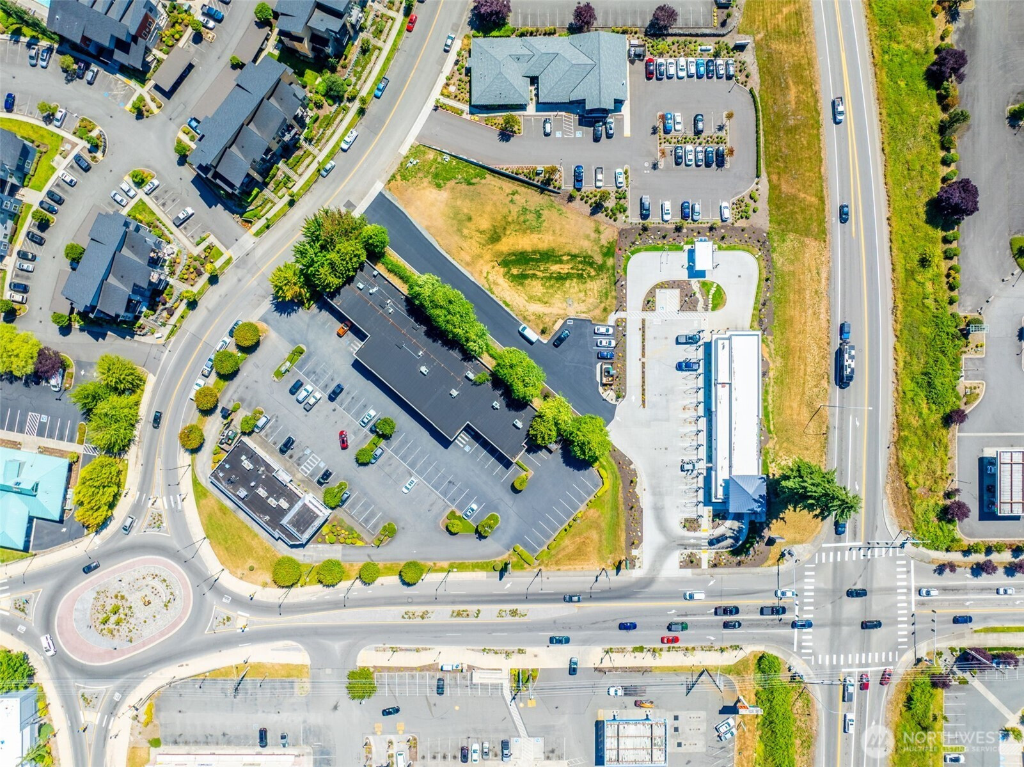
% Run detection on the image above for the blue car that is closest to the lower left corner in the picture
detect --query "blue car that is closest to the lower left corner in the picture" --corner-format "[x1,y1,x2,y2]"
[80,560,102,574]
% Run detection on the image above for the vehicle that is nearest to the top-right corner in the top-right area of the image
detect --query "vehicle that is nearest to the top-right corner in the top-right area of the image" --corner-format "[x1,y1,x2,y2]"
[833,98,845,123]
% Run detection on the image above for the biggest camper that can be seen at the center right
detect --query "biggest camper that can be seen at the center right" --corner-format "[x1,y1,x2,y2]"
[836,341,853,388]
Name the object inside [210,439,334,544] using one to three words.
building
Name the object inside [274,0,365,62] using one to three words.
house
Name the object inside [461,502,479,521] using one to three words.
car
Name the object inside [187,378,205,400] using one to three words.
vehicle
